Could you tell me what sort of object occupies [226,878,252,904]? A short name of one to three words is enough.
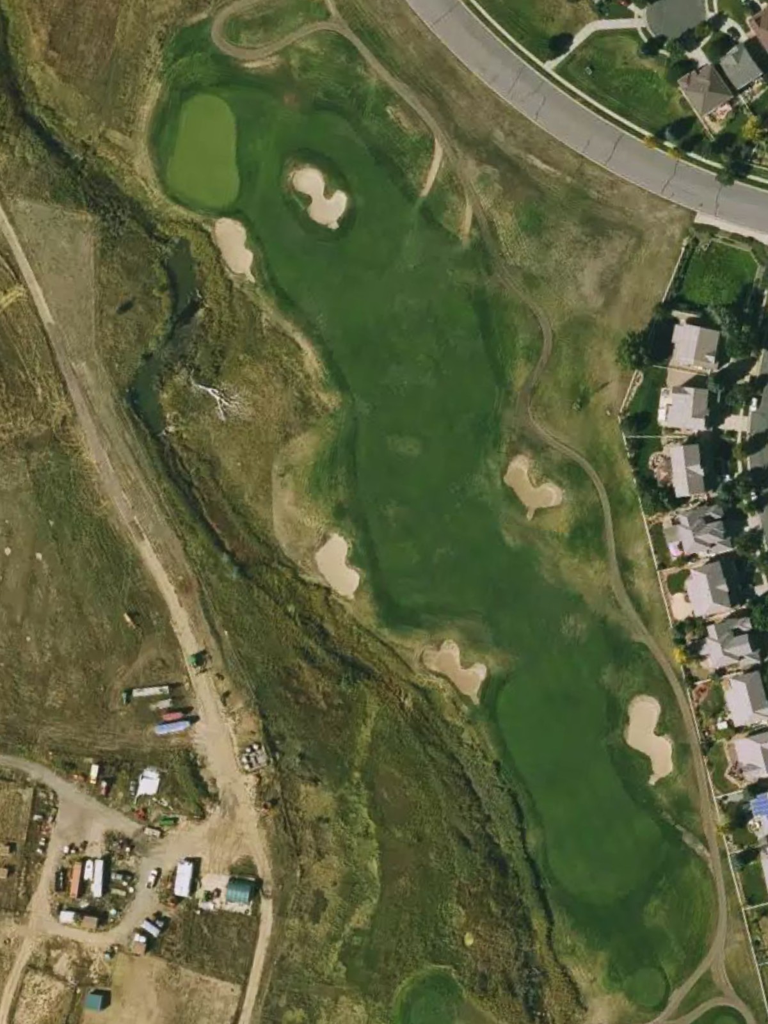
barn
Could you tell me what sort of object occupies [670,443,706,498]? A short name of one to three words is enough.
house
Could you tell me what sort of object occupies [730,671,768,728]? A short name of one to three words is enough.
house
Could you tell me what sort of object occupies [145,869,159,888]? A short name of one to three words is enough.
vehicle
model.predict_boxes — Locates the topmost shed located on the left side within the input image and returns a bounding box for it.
[135,767,159,803]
